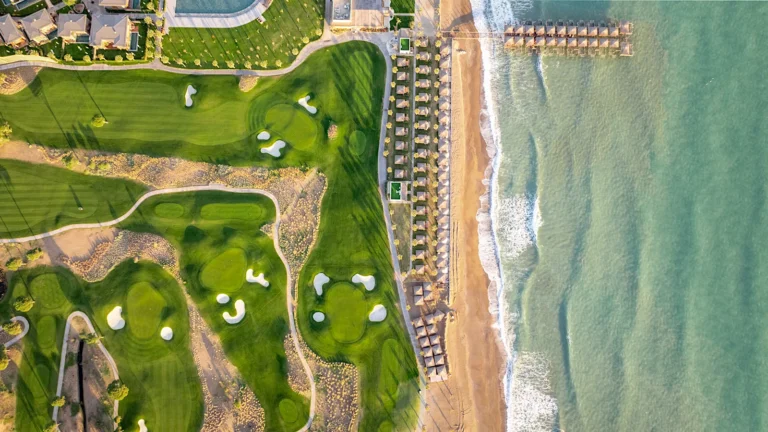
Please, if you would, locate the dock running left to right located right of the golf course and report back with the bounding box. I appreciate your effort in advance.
[439,19,634,56]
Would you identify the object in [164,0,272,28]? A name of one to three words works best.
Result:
swimming pool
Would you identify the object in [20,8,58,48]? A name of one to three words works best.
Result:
house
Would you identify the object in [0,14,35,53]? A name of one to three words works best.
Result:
house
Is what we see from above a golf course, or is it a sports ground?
golf course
